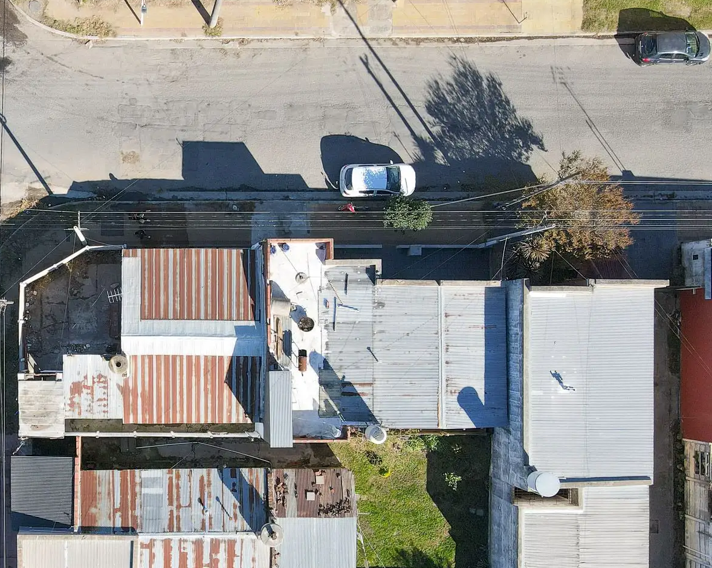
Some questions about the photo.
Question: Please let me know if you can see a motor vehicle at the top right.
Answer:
Yes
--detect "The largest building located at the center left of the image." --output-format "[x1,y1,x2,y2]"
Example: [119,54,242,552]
[63,245,264,441]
